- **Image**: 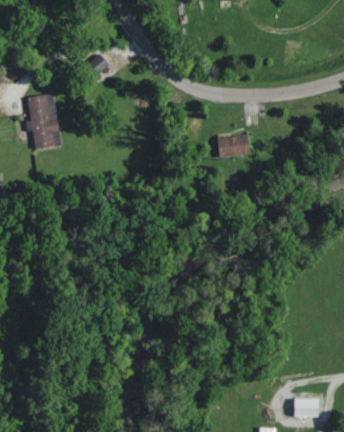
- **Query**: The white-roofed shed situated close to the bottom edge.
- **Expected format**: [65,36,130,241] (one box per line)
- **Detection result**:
[294,398,319,418]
